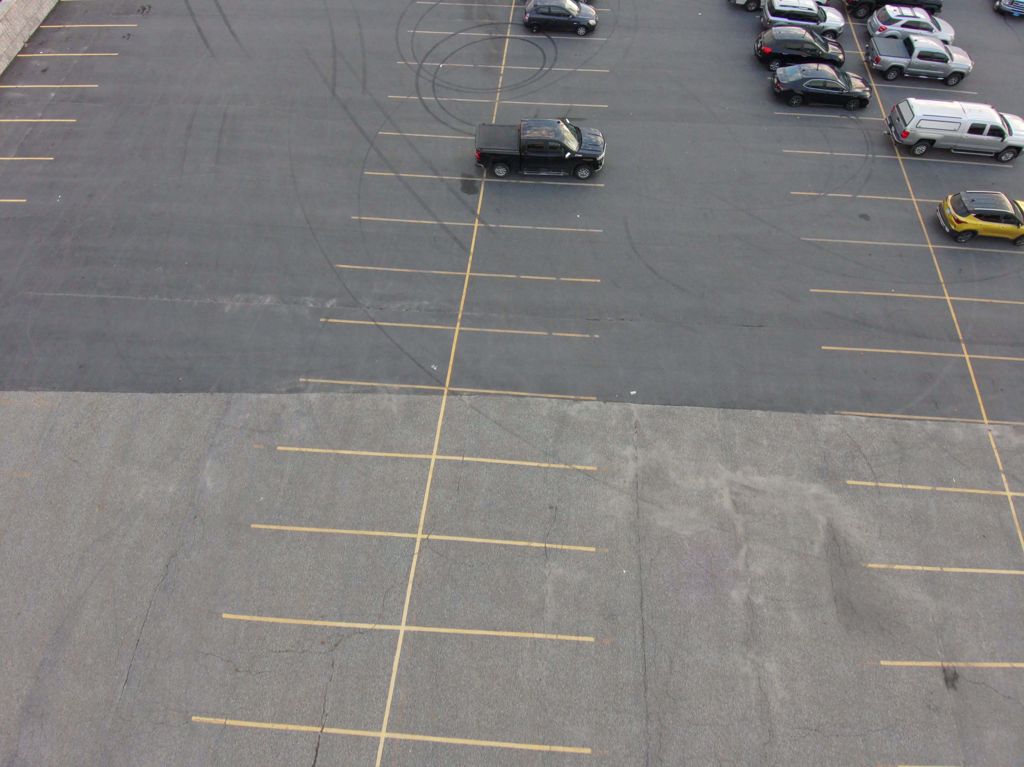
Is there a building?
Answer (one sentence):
No, the picture doesn't show any building.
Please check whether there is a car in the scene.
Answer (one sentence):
Yes, a car appears in the view.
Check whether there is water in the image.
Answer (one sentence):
No, there's no water in this view.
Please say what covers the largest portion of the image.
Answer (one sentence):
The bulk of the photo consists of paved ground.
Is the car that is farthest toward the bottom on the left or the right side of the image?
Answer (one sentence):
You can find the car that is farthest toward the bottom on the right side of the picture.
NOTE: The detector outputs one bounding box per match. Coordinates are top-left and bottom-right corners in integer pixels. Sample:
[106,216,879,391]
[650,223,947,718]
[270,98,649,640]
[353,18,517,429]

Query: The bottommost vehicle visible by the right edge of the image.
[939,188,1024,246]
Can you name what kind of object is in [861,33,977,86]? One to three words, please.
truck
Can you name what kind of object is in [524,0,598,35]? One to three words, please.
car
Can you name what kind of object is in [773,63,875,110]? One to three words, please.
car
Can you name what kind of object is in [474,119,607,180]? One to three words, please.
truck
